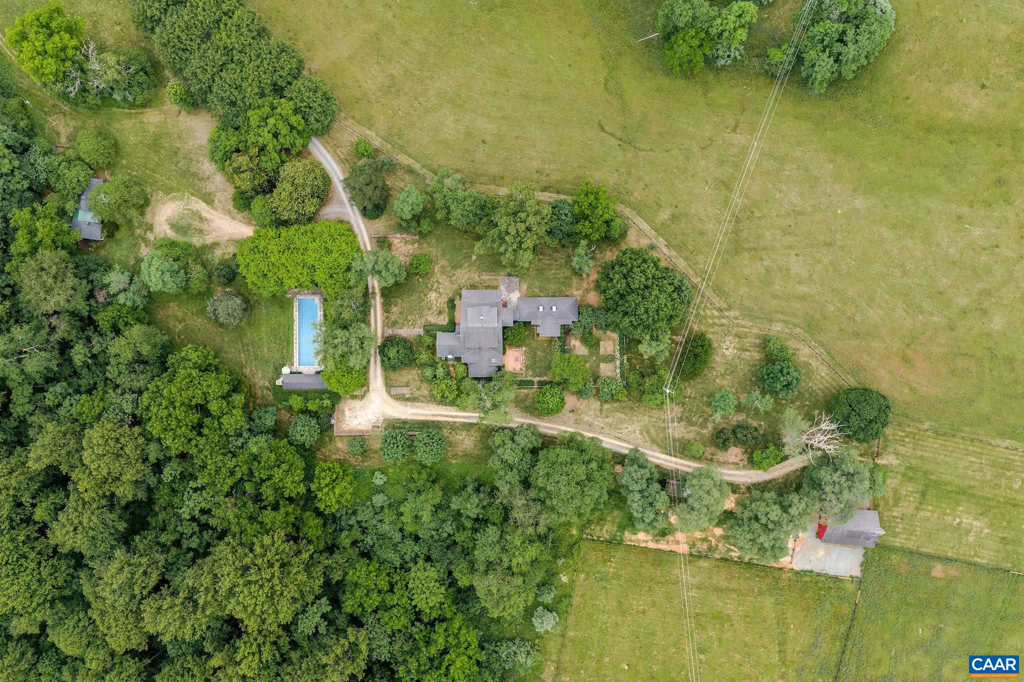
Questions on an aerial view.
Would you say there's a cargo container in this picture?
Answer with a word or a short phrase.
No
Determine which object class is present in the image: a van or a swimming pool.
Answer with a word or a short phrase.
swimming pool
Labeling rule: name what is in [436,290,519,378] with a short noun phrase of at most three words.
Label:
house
